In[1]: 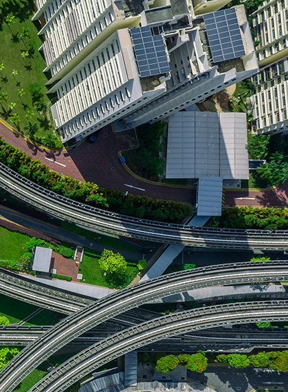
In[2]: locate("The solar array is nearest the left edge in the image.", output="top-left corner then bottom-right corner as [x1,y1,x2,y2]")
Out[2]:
[130,26,170,77]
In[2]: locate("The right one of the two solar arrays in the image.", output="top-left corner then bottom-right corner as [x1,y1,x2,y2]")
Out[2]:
[201,9,245,63]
